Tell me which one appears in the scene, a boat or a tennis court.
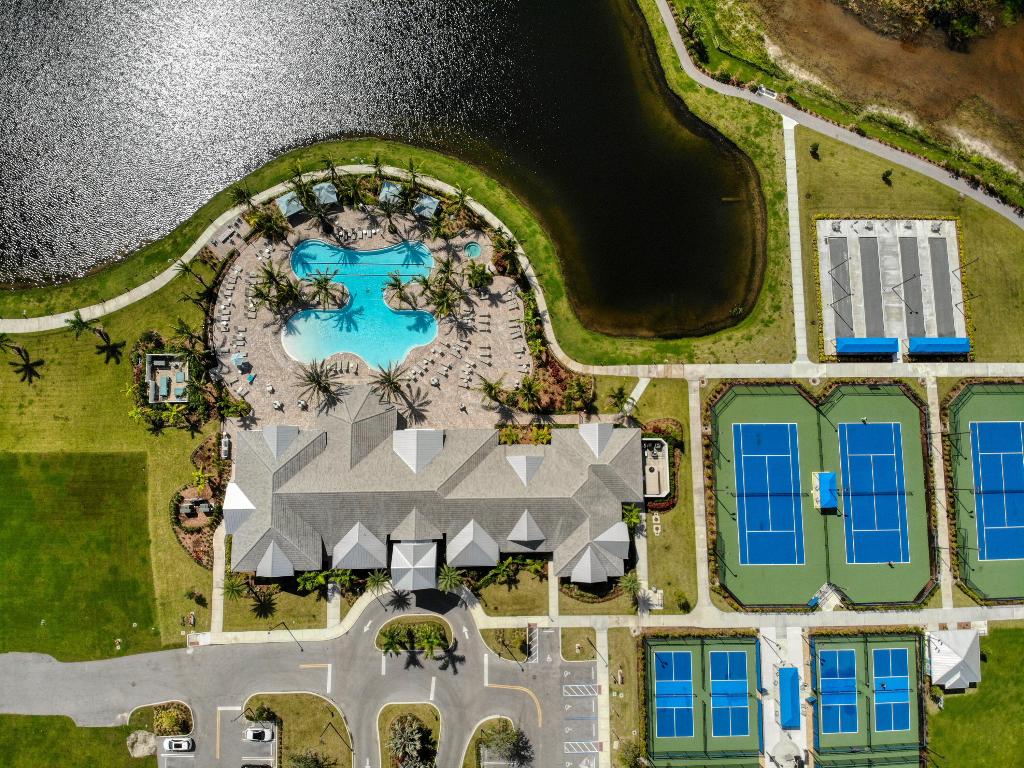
tennis court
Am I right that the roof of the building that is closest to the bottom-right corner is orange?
No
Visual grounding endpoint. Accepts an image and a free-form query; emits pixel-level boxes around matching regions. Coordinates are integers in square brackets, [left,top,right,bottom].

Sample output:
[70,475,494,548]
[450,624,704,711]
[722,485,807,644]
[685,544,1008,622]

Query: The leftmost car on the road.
[163,739,190,754]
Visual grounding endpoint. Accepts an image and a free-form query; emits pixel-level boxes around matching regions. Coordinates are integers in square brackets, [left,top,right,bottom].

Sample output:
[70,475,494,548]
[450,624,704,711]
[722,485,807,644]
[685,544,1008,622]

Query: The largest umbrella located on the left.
[230,352,246,366]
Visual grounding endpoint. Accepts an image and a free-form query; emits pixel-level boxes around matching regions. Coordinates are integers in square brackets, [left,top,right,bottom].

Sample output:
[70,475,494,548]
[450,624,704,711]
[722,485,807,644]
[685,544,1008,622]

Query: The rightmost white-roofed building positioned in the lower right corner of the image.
[920,627,980,689]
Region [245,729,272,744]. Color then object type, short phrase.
white car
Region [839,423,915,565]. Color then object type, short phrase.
blue tennis court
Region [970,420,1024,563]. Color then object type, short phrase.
blue tennis court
